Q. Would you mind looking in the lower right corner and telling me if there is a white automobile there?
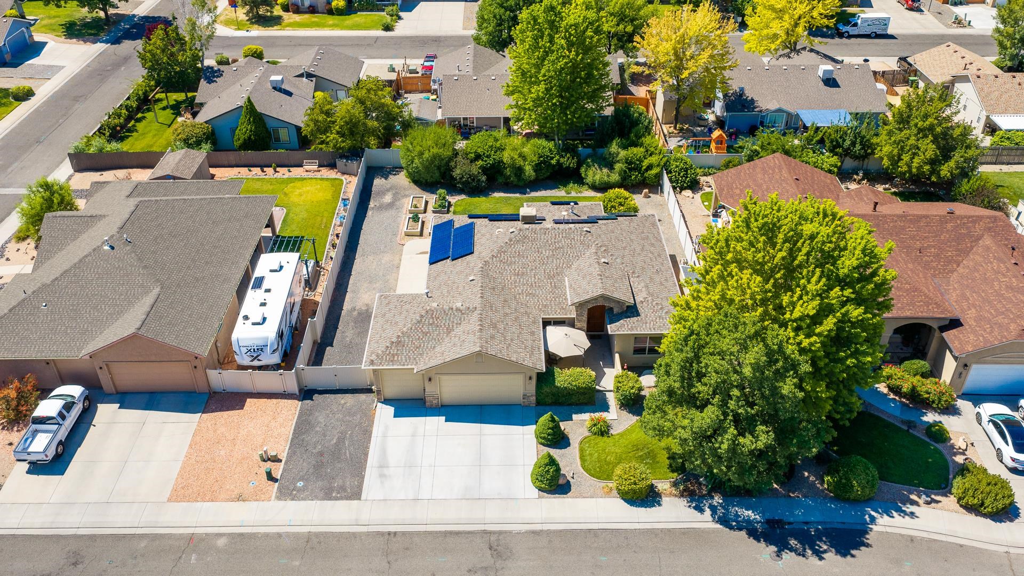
Yes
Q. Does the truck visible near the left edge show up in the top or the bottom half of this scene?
bottom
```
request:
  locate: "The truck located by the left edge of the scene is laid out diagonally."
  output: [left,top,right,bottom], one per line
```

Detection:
[9,387,90,471]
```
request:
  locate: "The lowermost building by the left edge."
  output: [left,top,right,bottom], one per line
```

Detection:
[0,176,277,396]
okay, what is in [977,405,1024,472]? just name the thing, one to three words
car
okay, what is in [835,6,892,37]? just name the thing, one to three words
truck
